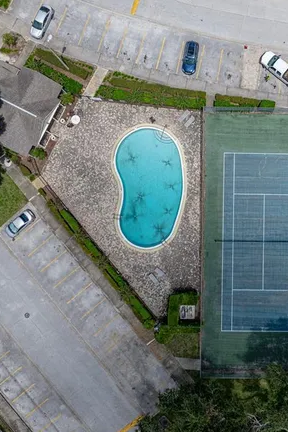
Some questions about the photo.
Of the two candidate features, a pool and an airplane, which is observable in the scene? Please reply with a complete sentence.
It is a pool that can be seen here.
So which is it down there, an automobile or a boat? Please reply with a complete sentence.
This aerial view contains an automobile.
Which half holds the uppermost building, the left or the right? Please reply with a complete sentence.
You can find the uppermost building on the left side of the picture.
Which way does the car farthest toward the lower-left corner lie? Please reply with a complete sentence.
The car farthest toward the lower-left corner is laid out on a diagonal.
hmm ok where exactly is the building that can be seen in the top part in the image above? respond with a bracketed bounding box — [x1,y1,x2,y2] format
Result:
[0,58,64,154]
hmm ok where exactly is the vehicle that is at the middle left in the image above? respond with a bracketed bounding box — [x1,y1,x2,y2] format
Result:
[5,209,37,238]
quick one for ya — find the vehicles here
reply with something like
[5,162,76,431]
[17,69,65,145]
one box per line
[262,55,288,88]
[5,209,37,238]
[31,4,53,40]
[181,41,197,74]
